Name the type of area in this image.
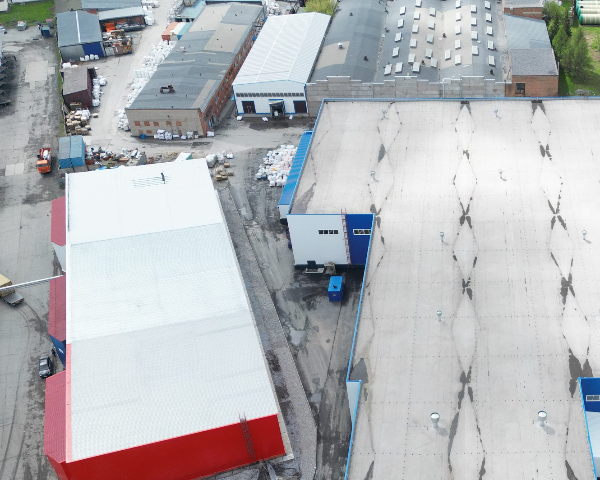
industrial area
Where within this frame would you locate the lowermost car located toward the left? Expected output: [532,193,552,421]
[34,358,54,376]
